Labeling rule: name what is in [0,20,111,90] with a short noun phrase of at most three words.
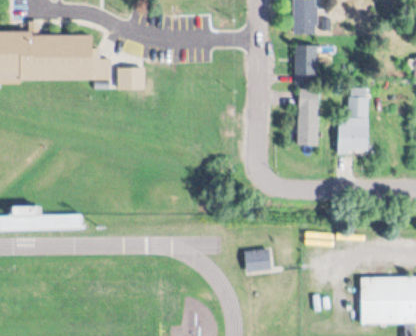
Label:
building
